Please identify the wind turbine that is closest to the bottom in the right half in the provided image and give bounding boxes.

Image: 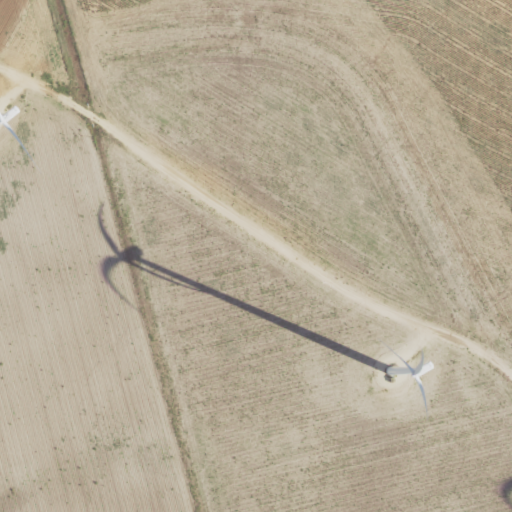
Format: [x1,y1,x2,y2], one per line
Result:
[386,343,434,422]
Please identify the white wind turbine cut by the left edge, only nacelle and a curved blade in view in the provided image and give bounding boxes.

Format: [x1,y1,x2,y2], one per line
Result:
[0,107,36,168]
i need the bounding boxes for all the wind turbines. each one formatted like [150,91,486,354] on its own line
[386,343,434,422]
[0,107,36,168]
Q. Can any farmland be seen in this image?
Yes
